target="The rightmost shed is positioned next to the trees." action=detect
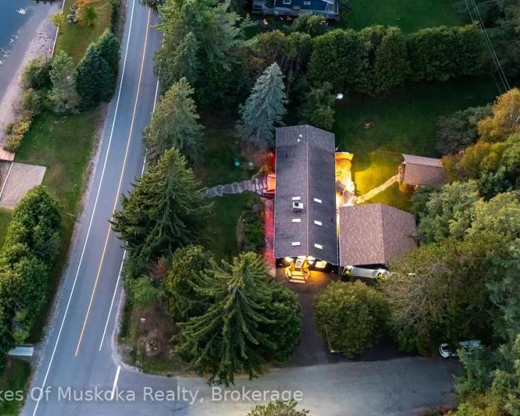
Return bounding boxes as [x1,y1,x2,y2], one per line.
[390,151,452,190]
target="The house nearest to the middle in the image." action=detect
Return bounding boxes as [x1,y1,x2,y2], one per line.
[251,122,341,290]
